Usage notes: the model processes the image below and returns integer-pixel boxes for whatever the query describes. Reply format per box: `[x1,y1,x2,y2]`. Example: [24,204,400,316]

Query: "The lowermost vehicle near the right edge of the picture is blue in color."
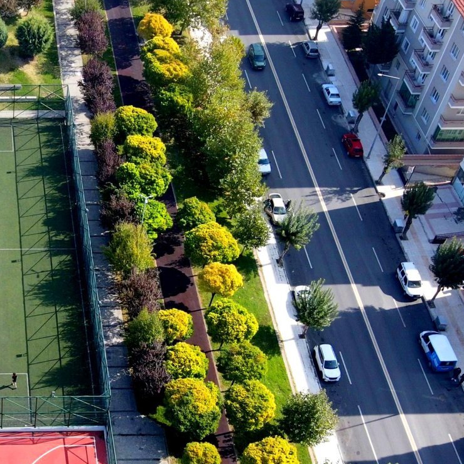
[420,330,462,376]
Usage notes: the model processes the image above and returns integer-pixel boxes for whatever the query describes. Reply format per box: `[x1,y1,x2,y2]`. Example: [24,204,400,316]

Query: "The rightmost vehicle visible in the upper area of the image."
[339,137,365,161]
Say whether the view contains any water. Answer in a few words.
No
